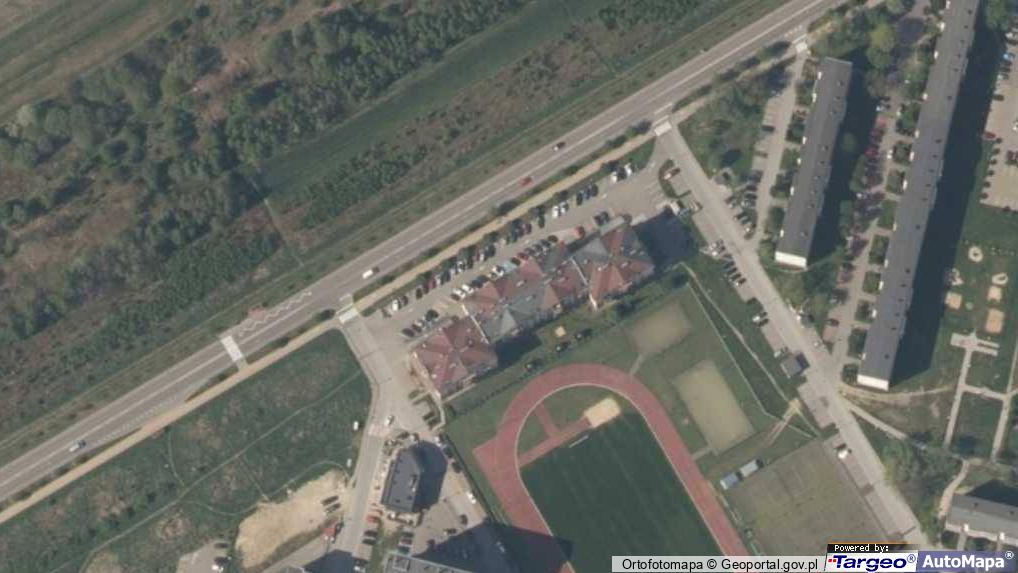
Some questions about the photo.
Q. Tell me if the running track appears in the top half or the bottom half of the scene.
bottom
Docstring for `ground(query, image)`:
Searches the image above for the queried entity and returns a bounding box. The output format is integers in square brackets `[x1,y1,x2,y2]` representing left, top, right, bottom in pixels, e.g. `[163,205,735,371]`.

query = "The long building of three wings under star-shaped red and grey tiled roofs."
[416,226,648,395]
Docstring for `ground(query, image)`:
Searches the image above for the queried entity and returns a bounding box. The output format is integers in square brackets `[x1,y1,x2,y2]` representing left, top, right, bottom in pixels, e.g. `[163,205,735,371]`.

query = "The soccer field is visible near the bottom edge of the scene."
[523,398,727,573]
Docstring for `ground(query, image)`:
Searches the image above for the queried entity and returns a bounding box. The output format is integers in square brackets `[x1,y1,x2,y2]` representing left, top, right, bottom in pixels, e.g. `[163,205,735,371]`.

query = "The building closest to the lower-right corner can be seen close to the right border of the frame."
[944,494,1018,550]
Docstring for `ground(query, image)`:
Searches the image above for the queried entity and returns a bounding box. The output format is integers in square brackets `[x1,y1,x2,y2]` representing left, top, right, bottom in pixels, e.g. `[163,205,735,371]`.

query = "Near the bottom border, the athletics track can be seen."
[474,364,752,573]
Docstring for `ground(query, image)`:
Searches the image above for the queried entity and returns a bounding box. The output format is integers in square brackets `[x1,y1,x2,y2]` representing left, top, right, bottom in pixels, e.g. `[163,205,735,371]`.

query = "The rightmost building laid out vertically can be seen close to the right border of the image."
[856,0,982,390]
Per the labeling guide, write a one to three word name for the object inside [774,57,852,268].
building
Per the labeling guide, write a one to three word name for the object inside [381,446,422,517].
building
